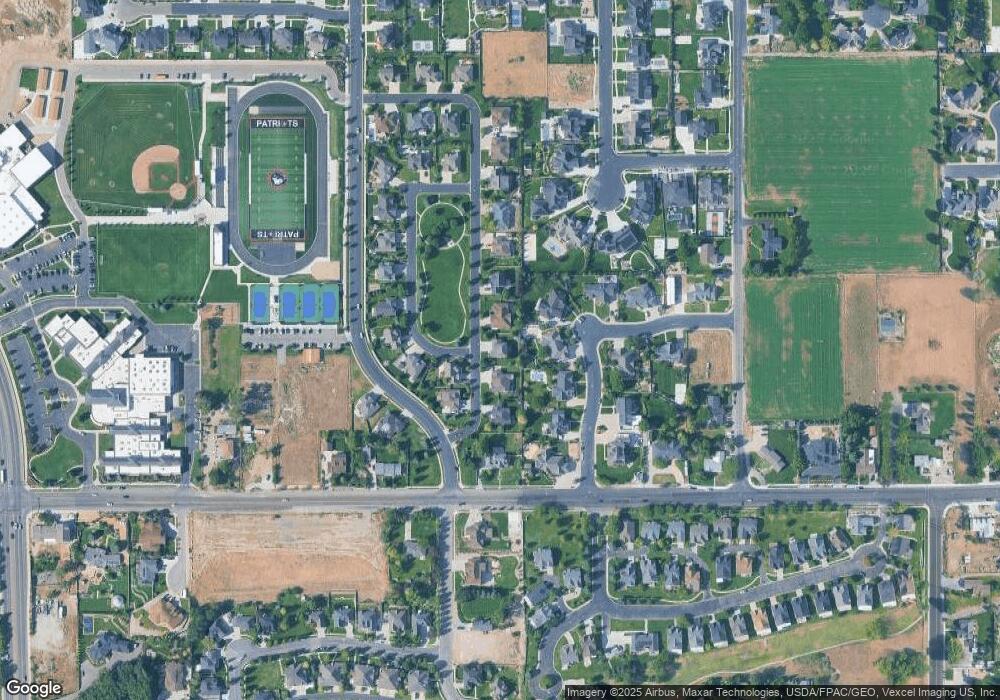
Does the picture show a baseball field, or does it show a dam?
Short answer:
baseball field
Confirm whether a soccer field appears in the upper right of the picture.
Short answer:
No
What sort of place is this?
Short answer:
residential area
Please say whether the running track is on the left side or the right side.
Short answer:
left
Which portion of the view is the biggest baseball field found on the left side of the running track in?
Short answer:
top left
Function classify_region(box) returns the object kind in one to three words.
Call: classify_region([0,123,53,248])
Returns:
building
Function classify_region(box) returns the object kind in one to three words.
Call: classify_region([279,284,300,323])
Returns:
tennis court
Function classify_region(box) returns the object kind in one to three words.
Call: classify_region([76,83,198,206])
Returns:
baseball field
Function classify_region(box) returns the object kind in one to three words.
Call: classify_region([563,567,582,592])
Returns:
house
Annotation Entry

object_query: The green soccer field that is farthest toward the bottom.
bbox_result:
[97,224,210,304]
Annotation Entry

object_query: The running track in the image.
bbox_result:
[227,83,328,276]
